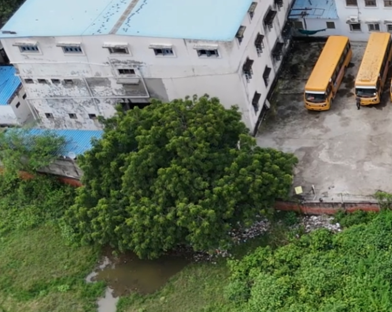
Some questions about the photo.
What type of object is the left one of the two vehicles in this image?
bus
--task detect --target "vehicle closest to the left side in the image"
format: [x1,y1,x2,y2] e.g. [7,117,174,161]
[302,37,350,107]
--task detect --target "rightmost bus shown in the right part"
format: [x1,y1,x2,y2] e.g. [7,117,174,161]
[352,34,392,101]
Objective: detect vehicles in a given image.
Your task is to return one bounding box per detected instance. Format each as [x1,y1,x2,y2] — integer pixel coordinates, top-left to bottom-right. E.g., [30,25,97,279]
[352,34,392,101]
[302,37,350,107]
